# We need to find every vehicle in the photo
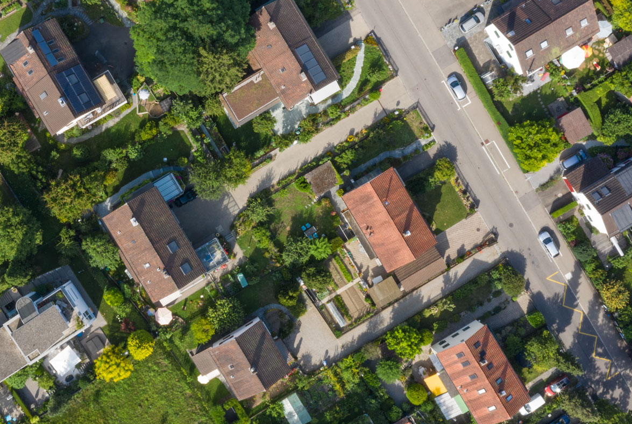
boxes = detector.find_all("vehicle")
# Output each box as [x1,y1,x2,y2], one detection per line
[443,73,468,103]
[457,9,485,31]
[517,393,551,418]
[543,375,574,398]
[535,229,562,259]
[169,186,198,210]
[559,147,587,171]
[546,414,572,424]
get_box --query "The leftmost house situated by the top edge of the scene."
[0,21,127,135]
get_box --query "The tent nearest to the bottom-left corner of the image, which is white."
[49,342,82,377]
